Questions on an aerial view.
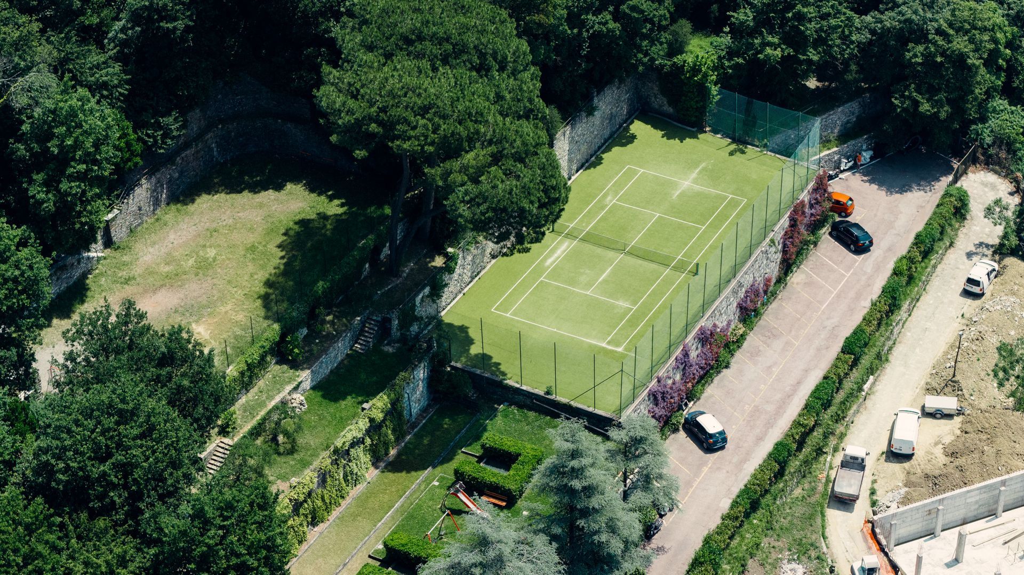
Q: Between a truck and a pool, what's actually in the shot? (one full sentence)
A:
There is a truck in the scene.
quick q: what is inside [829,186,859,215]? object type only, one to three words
car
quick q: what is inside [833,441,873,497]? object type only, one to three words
truck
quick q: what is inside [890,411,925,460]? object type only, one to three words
van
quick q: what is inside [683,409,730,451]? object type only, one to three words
car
